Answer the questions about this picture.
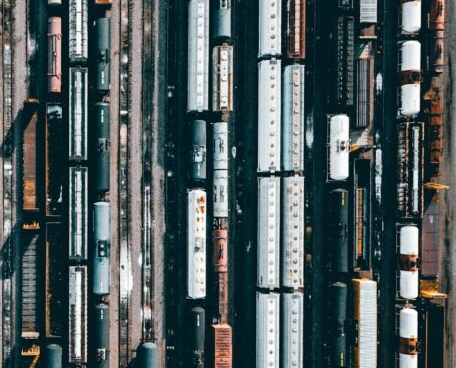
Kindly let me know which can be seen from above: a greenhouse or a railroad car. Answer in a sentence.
Visible in the photo is a railroad car.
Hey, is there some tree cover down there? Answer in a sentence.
No, there is no tree cover in the image.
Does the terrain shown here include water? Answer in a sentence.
No, the scene doesn't show any water.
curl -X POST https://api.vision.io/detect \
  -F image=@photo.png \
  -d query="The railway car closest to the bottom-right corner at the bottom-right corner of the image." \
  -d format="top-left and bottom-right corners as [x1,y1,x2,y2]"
[397,301,424,368]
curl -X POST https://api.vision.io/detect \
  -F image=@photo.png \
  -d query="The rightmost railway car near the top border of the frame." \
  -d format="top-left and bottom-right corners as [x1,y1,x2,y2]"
[423,0,440,81]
